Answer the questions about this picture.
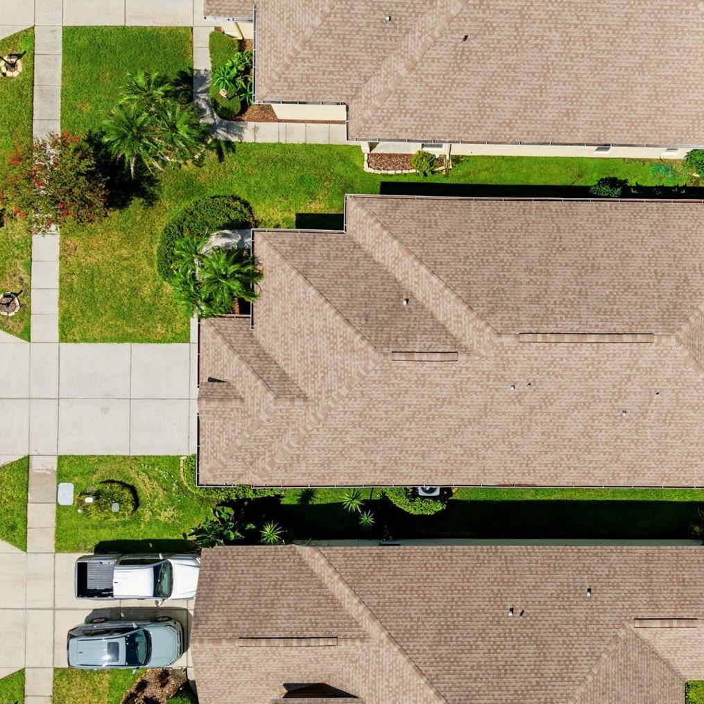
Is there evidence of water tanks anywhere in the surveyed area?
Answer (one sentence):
No, there's no water tank here.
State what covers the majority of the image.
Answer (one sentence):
For the most part, this view shows buildings.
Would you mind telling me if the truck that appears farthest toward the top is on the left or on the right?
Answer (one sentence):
The truck that appears farthest toward the top is on the left side of the image.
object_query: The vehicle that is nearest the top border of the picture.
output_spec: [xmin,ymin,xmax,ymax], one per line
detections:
[74,550,199,607]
